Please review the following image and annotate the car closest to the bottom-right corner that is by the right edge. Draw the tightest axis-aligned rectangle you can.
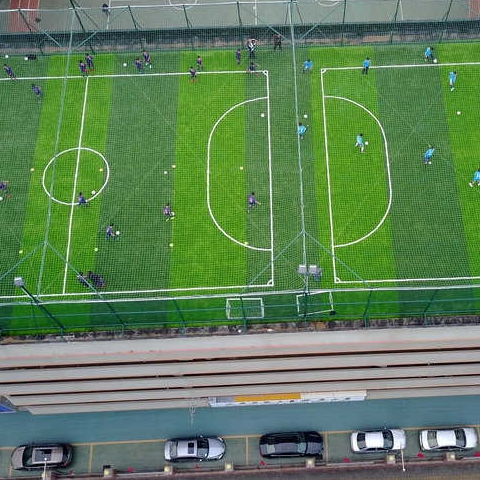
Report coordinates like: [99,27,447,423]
[418,424,478,454]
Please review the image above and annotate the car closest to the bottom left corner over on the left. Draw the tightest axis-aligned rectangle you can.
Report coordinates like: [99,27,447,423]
[11,442,74,473]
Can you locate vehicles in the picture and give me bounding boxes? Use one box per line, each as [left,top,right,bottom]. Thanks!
[11,442,74,473]
[164,433,227,463]
[418,424,478,454]
[258,429,325,460]
[350,425,406,455]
